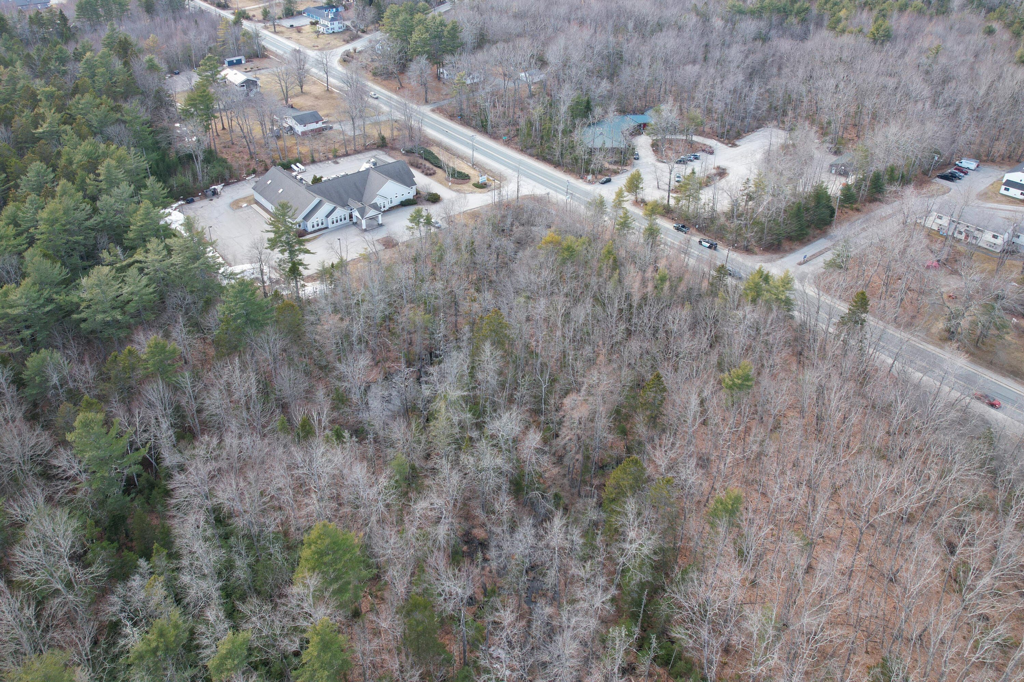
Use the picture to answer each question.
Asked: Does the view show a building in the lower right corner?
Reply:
No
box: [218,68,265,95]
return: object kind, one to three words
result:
house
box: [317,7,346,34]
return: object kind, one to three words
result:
house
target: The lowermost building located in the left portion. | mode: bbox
[250,154,420,233]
